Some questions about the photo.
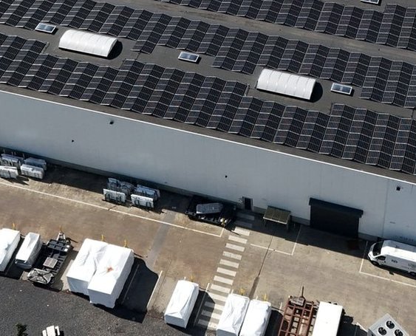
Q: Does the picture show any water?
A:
No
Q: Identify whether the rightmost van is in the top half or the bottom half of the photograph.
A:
bottom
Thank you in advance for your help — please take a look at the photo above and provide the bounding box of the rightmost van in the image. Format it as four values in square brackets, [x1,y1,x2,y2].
[369,239,416,272]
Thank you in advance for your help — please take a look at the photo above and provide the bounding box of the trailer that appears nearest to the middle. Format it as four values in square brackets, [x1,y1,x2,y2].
[184,206,244,234]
